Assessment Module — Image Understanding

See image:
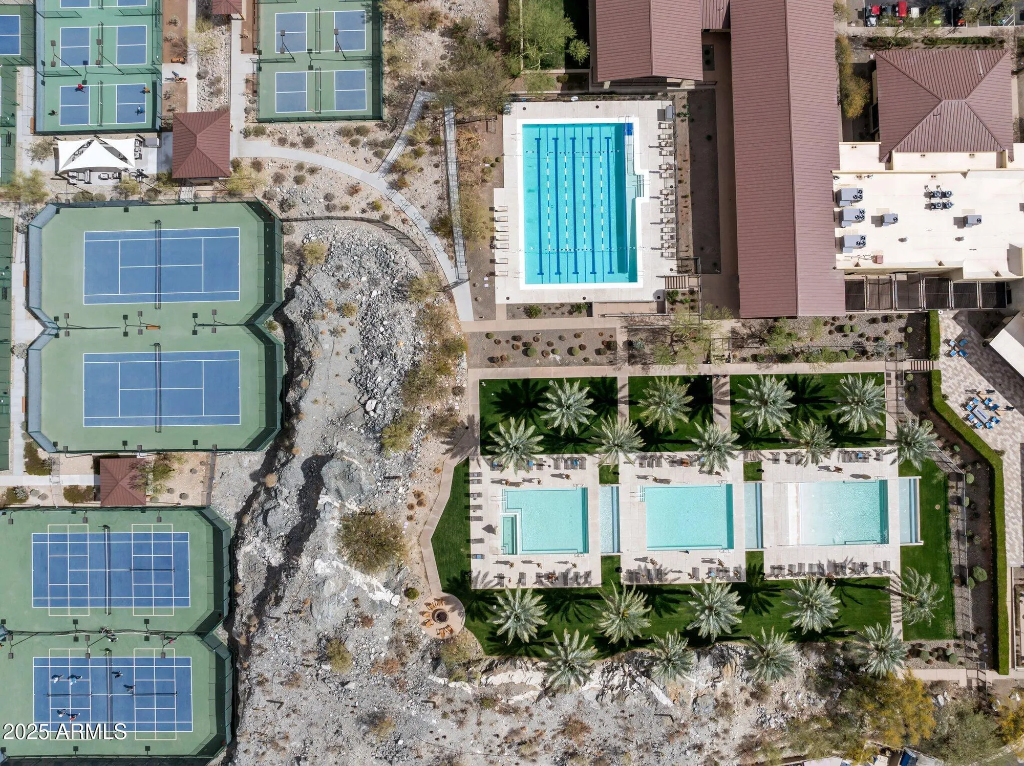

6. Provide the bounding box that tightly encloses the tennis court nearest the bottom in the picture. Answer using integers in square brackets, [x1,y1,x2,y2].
[0,632,234,763]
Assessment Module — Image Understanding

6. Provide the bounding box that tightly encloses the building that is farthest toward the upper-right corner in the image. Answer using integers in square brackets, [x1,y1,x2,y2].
[865,48,1015,163]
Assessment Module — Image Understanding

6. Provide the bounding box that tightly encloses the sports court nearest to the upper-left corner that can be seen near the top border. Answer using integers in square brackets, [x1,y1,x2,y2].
[0,4,34,65]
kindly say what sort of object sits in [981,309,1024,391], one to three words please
building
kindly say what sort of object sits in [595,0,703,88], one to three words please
building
